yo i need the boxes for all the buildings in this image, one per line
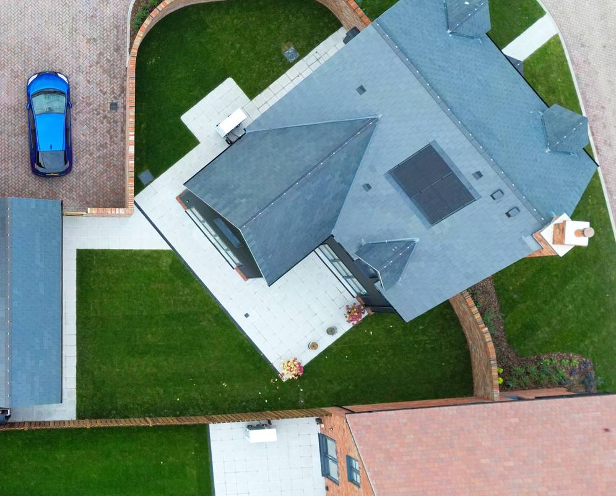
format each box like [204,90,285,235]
[0,197,64,407]
[319,387,616,496]
[175,0,599,324]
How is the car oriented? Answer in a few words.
vertically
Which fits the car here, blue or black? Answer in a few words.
blue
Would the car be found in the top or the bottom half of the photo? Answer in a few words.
top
